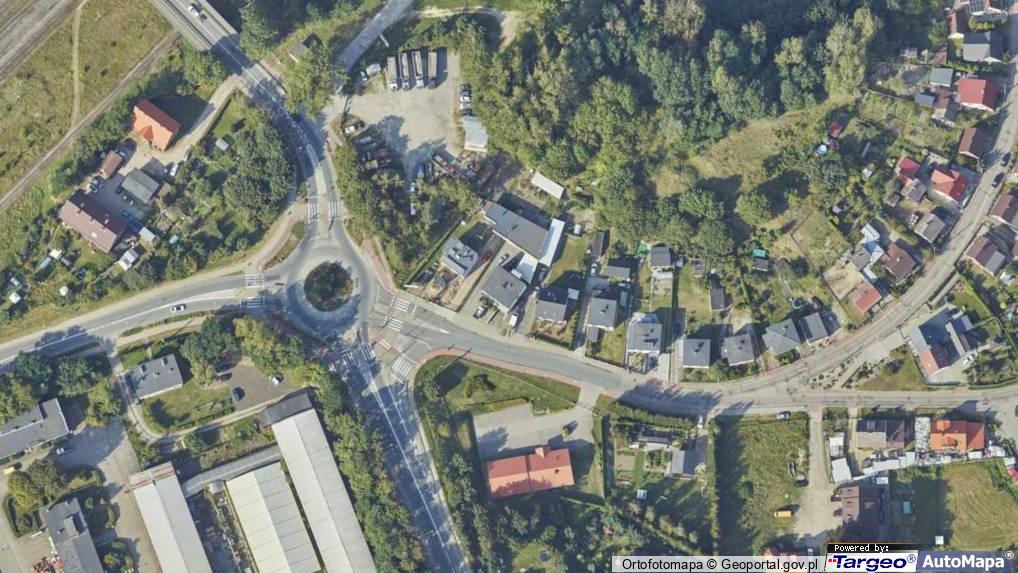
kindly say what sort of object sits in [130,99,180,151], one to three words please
house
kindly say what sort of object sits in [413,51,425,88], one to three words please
vehicle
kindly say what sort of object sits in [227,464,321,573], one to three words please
building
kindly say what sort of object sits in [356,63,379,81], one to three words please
vehicle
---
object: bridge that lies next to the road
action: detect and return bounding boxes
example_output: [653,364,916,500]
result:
[149,0,243,59]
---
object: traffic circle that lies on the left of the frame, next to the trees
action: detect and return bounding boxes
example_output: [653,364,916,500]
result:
[275,233,382,339]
